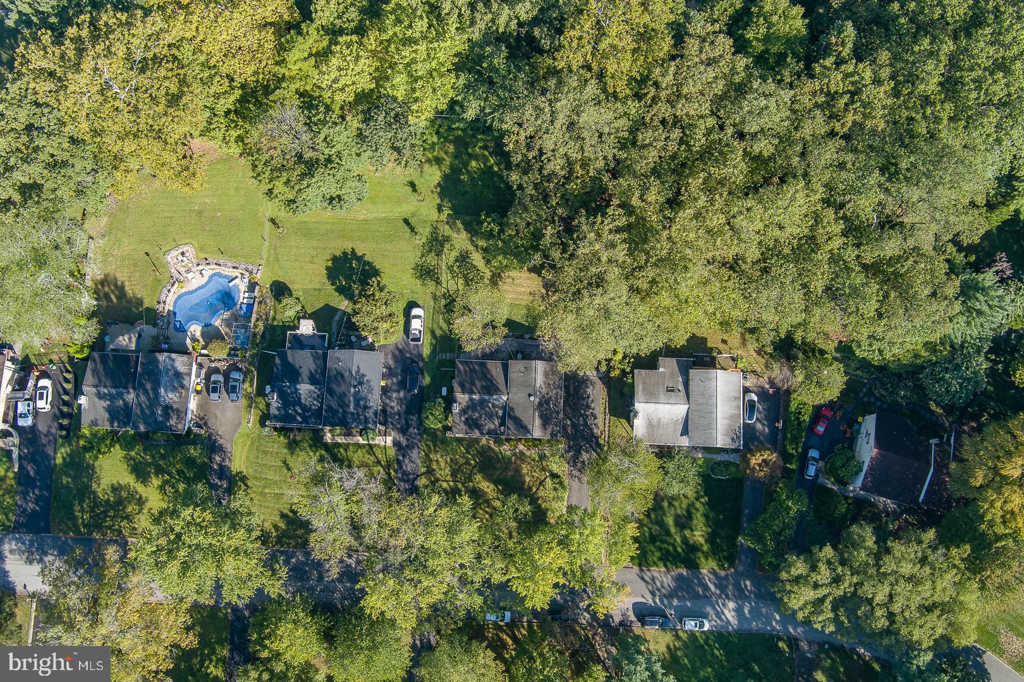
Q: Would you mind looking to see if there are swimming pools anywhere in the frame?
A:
Yes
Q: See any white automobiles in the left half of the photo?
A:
Yes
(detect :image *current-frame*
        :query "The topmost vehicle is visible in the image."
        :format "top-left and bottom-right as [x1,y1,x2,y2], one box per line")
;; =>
[407,307,423,343]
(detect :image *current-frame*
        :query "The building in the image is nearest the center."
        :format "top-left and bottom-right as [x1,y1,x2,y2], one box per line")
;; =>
[451,359,564,440]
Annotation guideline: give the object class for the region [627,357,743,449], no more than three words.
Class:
house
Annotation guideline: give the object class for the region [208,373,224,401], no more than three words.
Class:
car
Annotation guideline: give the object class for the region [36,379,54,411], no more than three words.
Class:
car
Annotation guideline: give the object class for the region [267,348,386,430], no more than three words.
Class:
house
